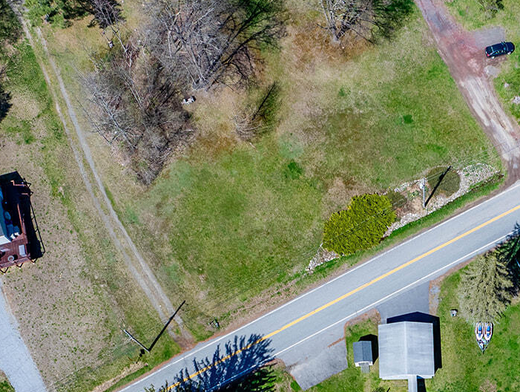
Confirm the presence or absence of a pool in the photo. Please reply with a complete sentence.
No, I find no pool anywhere in the image.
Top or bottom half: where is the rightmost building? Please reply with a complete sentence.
Seen from above, the rightmost building lies in the bottom half of the view.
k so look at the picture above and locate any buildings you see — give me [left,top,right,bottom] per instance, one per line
[378,321,434,379]
[353,340,373,371]
[0,182,32,267]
